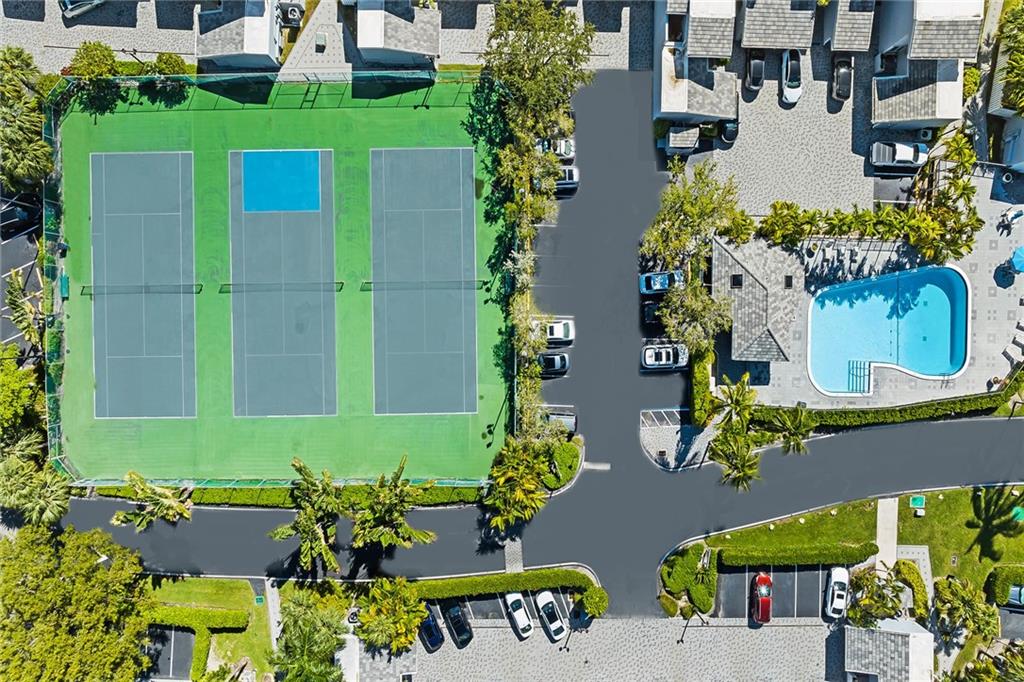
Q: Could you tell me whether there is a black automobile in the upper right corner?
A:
Yes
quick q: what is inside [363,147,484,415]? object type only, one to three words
tennis court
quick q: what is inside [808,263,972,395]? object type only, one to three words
swimming pool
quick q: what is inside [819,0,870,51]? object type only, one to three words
building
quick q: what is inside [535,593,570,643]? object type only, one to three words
car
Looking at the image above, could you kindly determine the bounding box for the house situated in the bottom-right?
[845,617,933,682]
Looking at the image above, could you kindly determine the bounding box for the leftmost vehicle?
[0,199,41,238]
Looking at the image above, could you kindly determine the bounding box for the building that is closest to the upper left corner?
[192,0,292,69]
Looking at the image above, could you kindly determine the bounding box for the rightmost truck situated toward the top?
[867,136,931,168]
